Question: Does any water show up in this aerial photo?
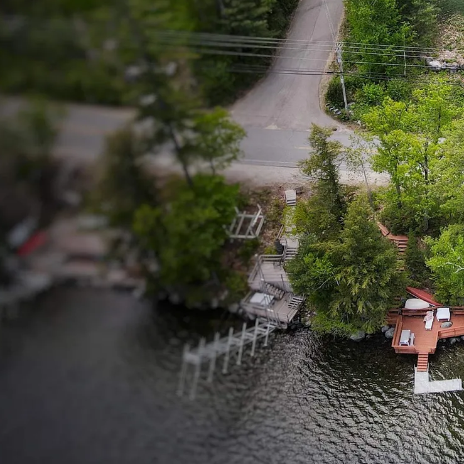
Yes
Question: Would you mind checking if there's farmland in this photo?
No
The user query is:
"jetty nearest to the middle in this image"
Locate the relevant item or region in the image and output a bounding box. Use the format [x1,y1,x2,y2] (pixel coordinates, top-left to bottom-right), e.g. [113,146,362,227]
[184,314,273,366]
